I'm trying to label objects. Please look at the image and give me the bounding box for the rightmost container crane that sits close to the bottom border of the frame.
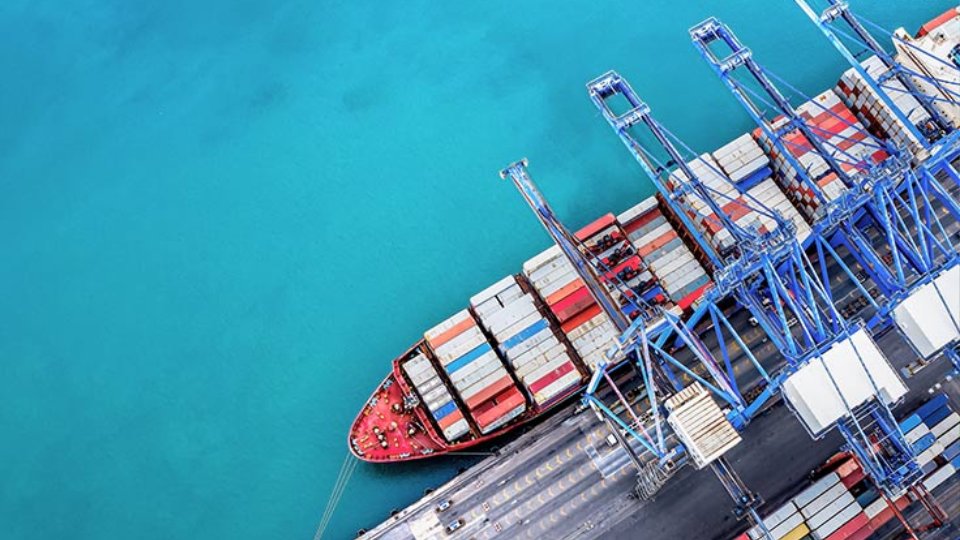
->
[823,448,953,540]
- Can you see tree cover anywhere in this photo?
No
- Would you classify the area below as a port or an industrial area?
port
